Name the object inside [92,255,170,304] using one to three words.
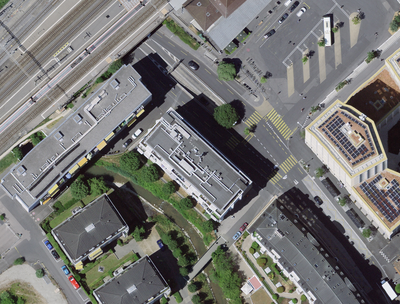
house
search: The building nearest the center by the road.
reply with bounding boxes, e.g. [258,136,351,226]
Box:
[143,107,252,219]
